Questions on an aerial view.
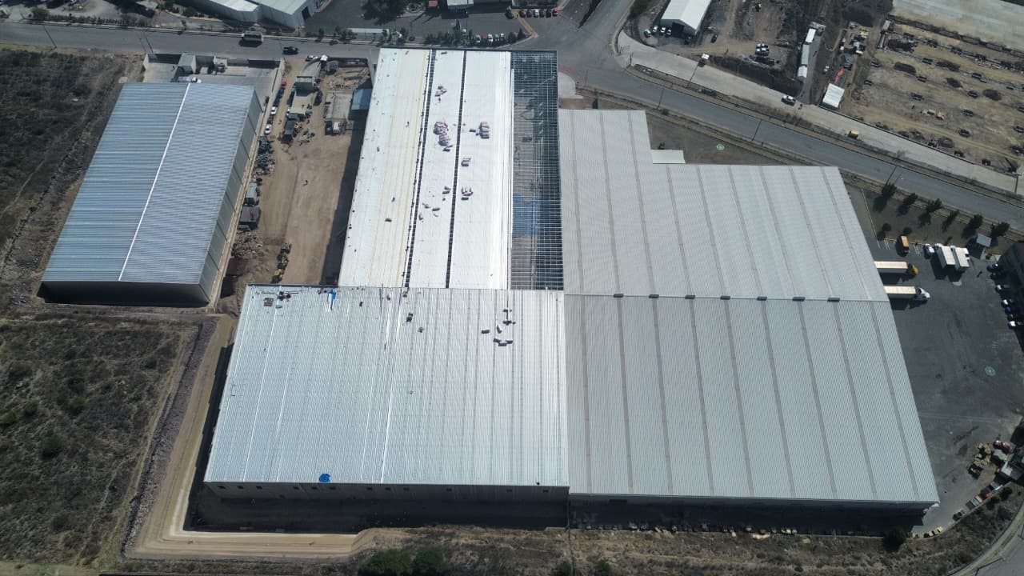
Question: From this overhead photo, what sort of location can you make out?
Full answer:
What you see here is an industrial area.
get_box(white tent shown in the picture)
[820,80,845,115]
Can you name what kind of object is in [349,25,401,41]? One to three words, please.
vehicle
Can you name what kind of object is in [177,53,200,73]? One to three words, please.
building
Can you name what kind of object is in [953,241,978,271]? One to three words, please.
truck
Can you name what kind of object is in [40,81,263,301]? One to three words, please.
warehouse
